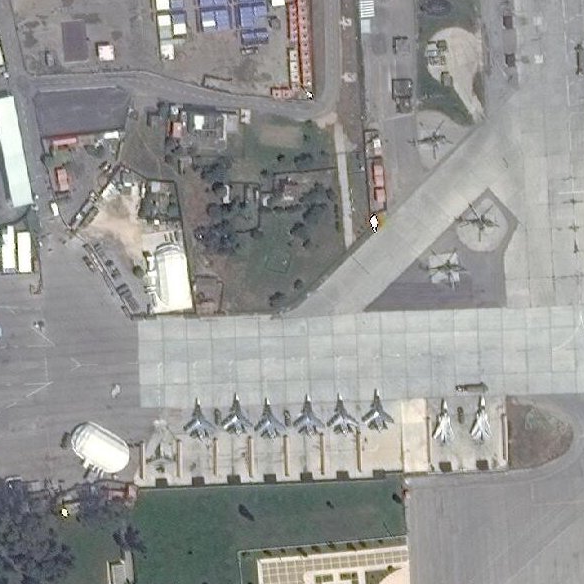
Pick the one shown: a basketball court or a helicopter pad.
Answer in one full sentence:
Of the two, only a helicopter pad appears.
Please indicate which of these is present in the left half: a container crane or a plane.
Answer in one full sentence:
There is a plane in the left half.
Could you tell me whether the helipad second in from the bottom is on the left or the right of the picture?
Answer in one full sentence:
You can find the helipad second in from the bottom on the right side of the picture.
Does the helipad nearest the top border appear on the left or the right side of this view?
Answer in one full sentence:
The helipad nearest the top border is on the right side of the image.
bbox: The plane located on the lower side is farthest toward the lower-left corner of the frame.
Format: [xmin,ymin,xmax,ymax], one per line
[145,419,176,461]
